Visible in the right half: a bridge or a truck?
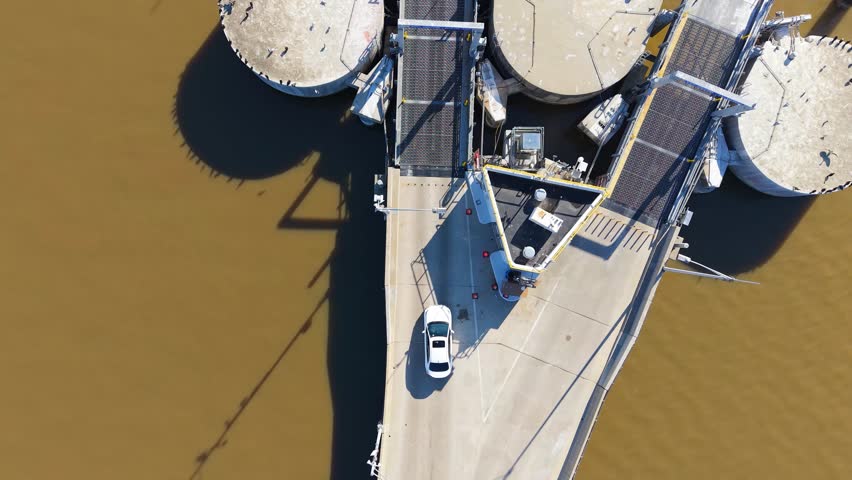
bridge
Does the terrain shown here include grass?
No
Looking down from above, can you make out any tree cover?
No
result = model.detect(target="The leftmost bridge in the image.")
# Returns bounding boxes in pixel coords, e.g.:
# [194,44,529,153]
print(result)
[397,0,480,176]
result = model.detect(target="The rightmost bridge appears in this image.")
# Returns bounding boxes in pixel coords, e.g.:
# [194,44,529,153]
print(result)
[594,0,777,235]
